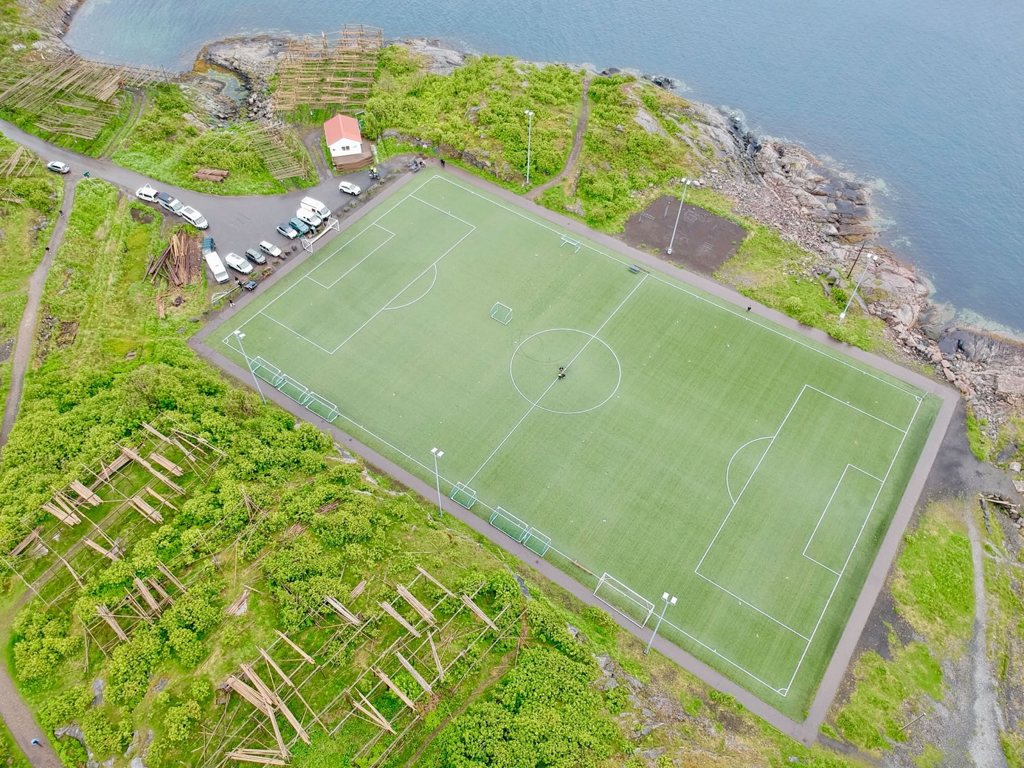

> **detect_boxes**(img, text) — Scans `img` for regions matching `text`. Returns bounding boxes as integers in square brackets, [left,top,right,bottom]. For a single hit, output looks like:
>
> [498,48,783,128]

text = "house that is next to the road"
[325,113,376,170]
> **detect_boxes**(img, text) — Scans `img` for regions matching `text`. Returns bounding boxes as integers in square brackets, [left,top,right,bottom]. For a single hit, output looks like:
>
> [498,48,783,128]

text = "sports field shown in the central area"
[204,165,945,725]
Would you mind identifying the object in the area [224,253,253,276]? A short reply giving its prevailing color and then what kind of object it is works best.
white vehicle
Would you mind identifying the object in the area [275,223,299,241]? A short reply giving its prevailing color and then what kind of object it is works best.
white car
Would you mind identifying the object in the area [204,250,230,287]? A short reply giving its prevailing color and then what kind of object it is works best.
white camper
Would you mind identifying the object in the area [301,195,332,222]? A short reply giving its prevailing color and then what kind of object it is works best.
white camper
